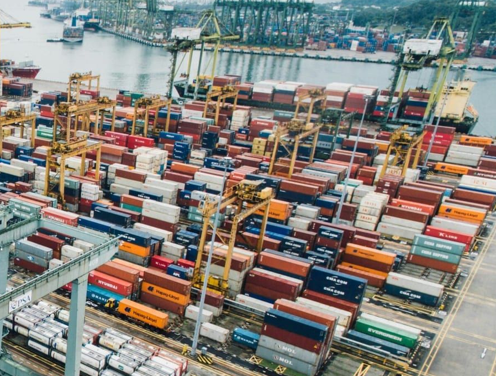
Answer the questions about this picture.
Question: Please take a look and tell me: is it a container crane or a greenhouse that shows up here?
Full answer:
The image shows a container crane.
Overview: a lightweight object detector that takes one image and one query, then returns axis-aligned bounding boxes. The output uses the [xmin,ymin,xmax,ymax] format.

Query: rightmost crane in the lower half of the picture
[192,190,280,301]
